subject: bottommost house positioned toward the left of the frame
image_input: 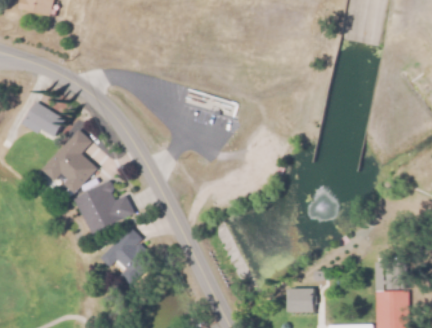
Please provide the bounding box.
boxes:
[102,230,149,284]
